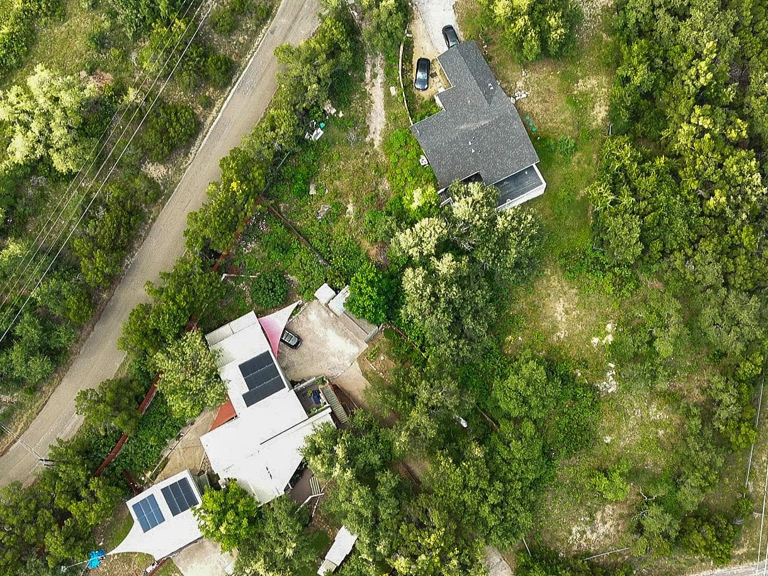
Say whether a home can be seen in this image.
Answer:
Yes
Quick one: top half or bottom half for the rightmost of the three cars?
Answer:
top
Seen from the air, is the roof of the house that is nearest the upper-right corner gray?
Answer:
Yes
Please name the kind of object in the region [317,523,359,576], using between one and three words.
shed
